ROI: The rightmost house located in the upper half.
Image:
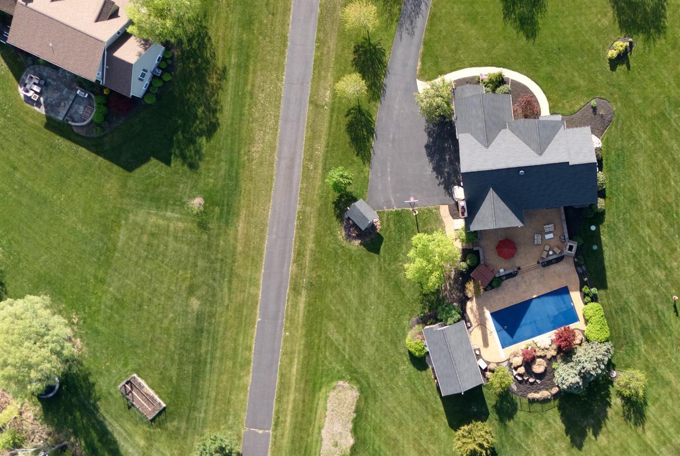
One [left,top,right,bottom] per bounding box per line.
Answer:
[450,83,598,232]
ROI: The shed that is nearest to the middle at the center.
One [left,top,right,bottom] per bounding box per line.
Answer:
[346,198,378,231]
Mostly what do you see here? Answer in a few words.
grass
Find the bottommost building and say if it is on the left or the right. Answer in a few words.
right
